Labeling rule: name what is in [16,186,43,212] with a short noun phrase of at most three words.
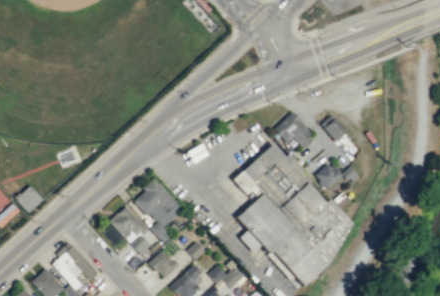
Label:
building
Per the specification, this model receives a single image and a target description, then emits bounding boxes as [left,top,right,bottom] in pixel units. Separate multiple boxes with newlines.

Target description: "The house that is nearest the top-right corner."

[320,113,344,140]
